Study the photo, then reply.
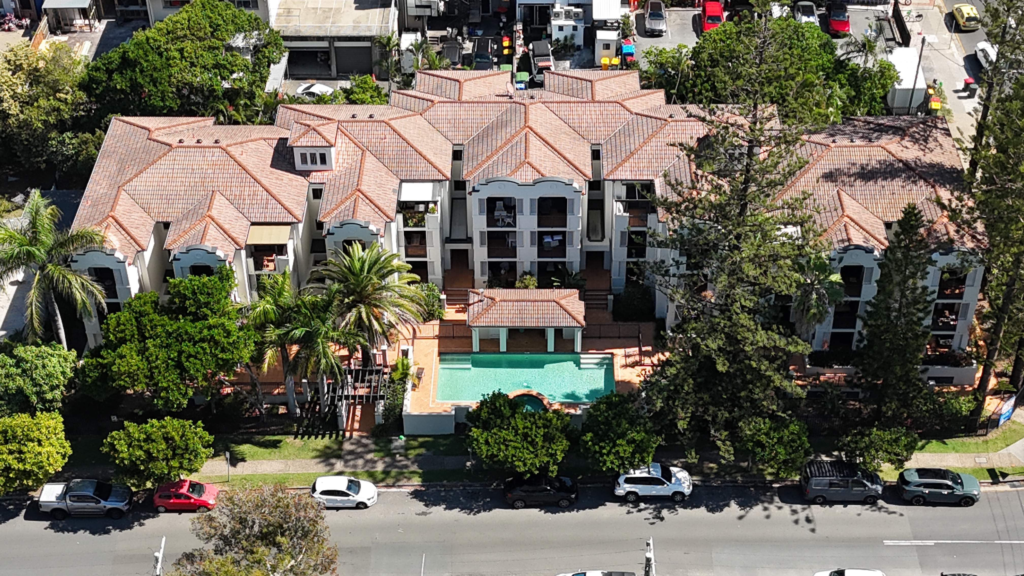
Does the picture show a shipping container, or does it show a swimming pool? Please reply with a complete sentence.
There is a swimming pool in the scene.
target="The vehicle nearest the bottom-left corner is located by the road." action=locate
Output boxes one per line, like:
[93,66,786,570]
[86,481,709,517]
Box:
[34,478,136,520]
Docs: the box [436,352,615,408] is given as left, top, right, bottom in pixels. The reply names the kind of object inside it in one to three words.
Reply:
swimming pool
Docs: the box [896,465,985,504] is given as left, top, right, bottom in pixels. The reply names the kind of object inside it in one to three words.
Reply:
car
